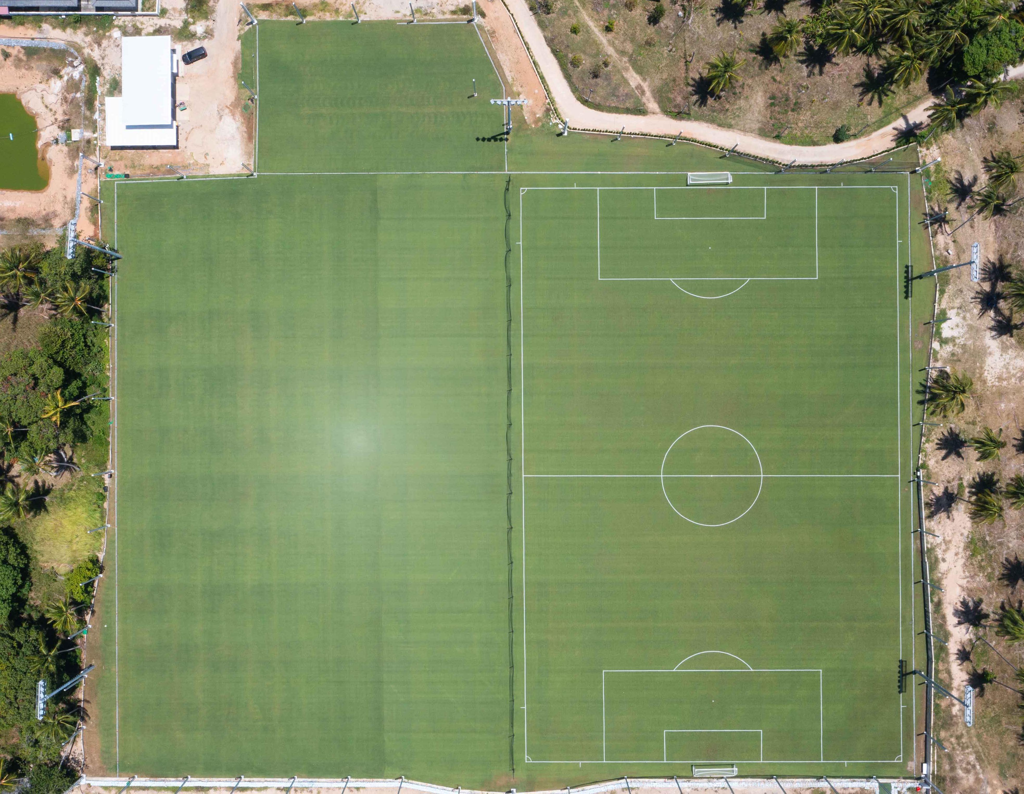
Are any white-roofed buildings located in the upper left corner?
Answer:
Yes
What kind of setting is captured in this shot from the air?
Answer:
sports ground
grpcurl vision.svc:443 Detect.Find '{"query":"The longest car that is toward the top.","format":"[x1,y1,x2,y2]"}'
[181,46,208,65]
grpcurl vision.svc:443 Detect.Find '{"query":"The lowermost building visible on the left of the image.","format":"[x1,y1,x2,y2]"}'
[105,35,183,146]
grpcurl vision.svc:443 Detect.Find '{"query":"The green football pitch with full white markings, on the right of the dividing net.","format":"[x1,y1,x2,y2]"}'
[510,173,914,792]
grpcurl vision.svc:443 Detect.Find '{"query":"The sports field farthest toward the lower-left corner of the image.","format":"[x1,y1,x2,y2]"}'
[116,173,514,792]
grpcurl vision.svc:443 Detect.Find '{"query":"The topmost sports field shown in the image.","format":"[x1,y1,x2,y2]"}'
[258,20,506,172]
